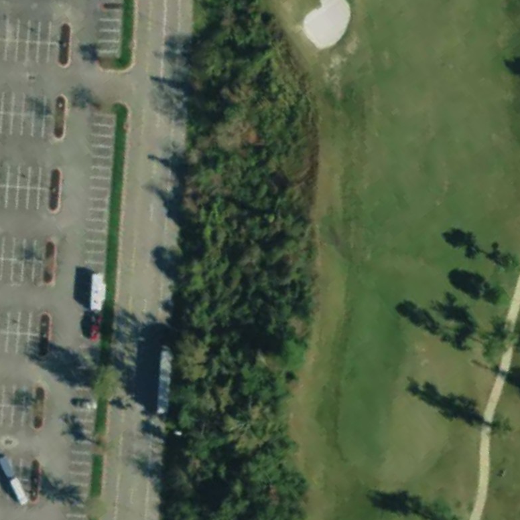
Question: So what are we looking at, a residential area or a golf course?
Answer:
golf course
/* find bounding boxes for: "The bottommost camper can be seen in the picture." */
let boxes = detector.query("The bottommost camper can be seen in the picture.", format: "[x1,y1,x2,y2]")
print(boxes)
[9,478,28,505]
